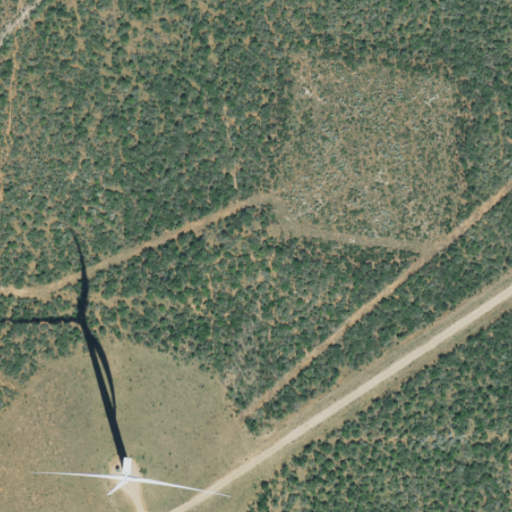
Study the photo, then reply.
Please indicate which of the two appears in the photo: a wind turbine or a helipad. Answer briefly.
wind turbine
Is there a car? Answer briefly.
No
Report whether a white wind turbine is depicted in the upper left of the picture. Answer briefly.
No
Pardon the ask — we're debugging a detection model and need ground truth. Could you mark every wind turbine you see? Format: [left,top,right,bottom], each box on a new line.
[40,457,228,494]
